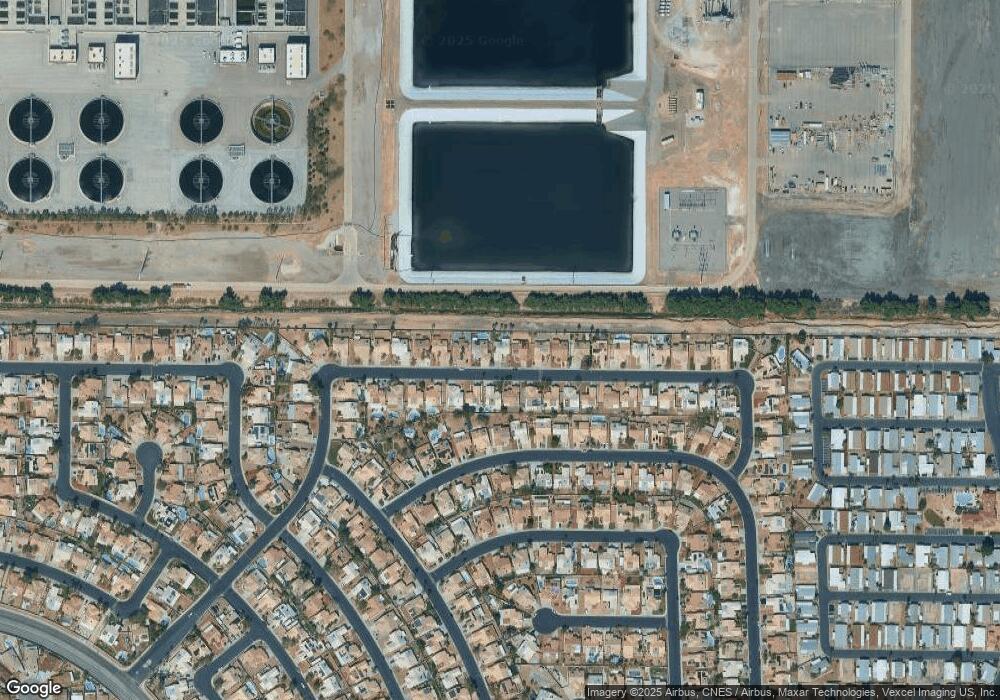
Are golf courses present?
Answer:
No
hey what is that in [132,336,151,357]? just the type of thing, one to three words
house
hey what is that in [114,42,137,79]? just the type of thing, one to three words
building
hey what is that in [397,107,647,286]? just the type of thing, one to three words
pond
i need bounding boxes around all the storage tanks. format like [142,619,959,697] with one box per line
[250,96,295,144]
[8,96,54,144]
[8,155,54,204]
[79,96,124,144]
[179,96,225,144]
[179,155,224,204]
[249,155,295,204]
[78,155,124,204]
